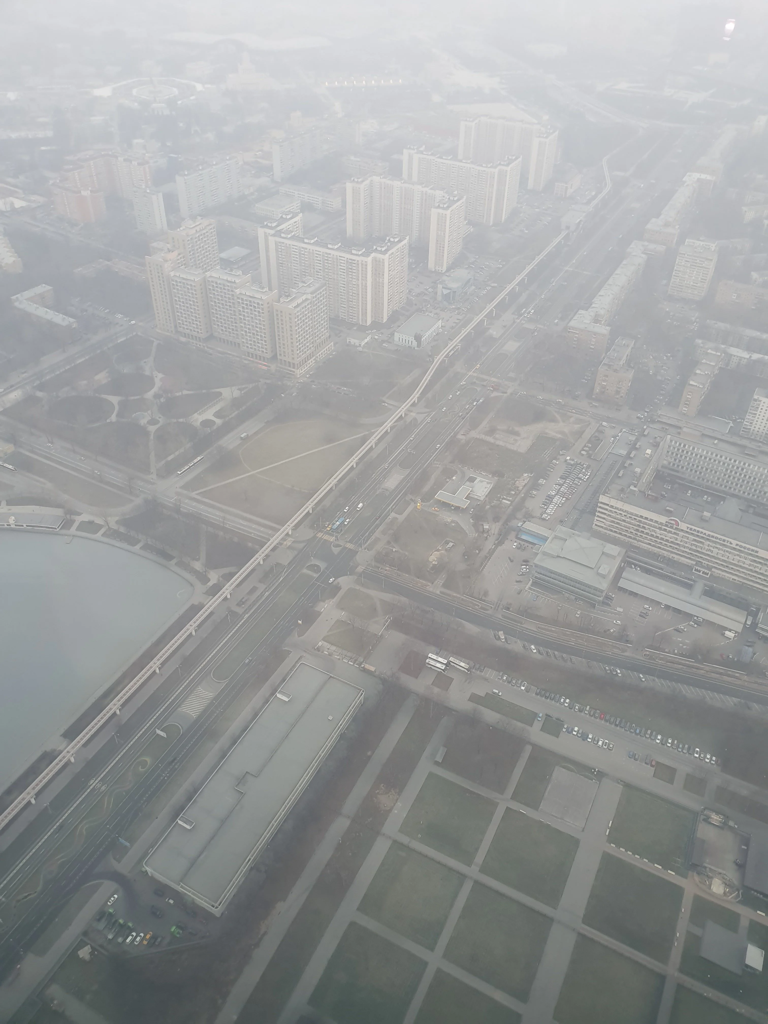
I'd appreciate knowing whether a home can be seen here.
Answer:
Yes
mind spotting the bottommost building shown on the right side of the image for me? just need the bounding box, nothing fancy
[744,944,764,973]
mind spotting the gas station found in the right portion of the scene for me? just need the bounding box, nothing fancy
[434,475,493,510]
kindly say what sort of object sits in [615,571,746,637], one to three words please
shed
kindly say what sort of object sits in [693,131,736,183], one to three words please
house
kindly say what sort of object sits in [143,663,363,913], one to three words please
building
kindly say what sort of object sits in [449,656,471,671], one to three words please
vehicle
